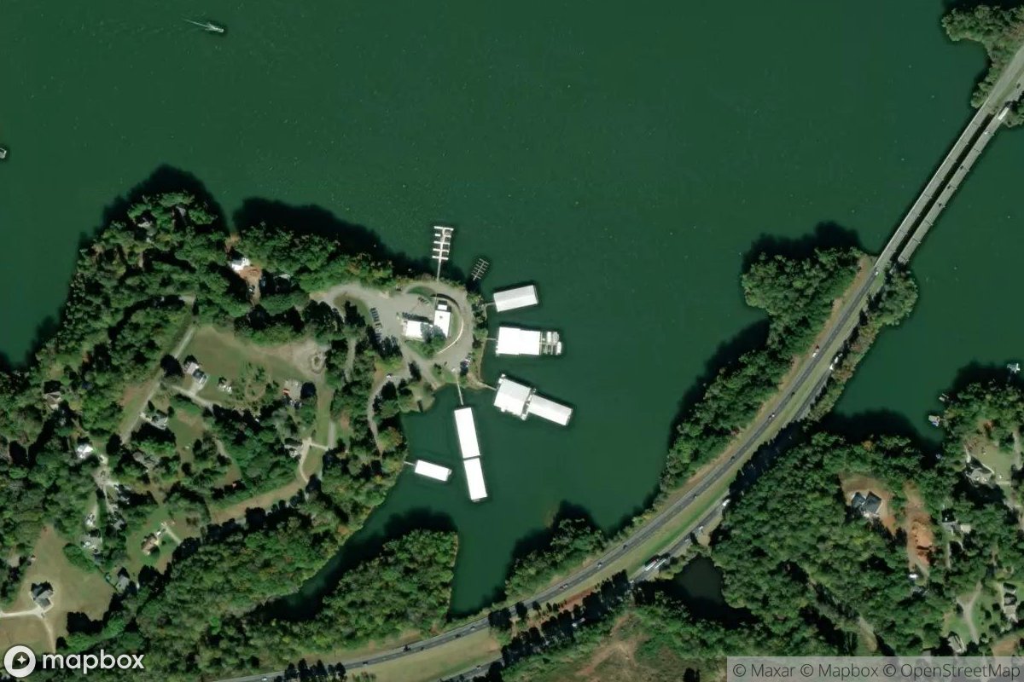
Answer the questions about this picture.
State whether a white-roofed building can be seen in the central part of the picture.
Yes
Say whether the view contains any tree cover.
Yes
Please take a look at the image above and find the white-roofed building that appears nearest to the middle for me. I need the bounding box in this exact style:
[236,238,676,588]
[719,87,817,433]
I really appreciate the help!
[402,302,450,339]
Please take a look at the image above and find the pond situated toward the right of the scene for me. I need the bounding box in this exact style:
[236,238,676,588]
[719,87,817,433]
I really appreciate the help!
[672,556,754,629]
